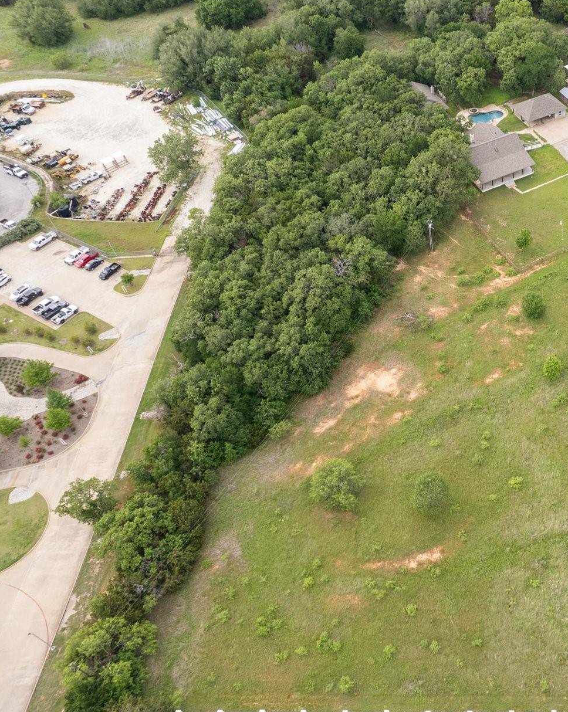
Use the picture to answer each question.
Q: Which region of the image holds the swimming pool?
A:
top right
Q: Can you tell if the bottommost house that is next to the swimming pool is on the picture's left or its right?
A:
right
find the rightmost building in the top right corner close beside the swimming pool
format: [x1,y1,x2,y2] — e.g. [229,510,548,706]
[509,94,568,133]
